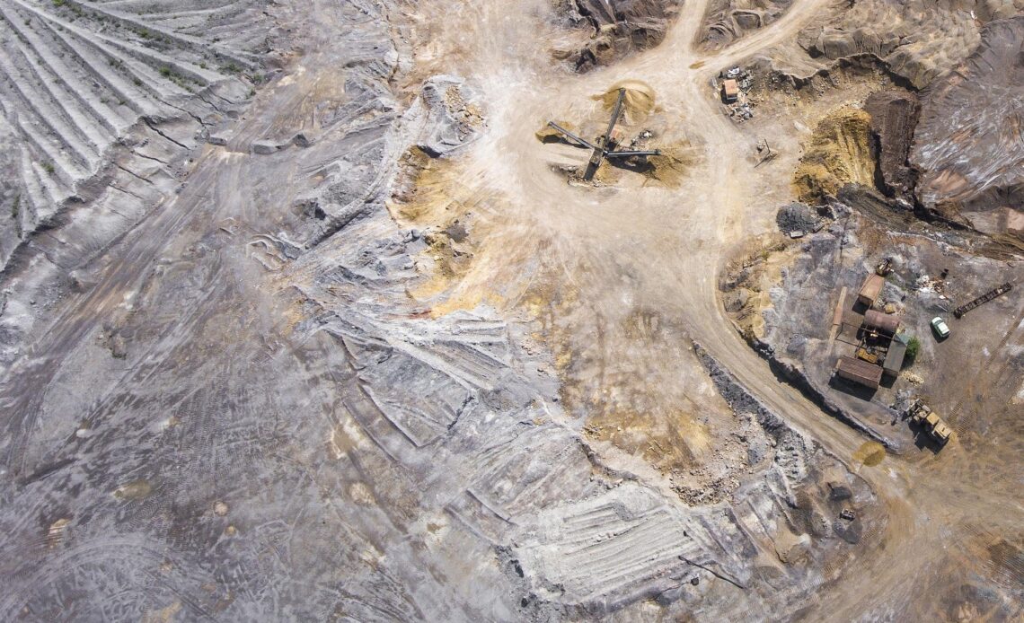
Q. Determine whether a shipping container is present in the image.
Yes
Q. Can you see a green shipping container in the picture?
No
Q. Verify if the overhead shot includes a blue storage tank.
No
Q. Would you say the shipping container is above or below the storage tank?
below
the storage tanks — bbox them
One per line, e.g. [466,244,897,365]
[862,309,901,339]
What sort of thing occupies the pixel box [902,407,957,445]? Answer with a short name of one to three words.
work vehicle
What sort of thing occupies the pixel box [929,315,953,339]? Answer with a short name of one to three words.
car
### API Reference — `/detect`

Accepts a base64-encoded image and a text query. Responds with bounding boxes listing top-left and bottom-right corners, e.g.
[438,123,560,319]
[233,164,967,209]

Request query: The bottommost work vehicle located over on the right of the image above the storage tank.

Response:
[876,259,892,276]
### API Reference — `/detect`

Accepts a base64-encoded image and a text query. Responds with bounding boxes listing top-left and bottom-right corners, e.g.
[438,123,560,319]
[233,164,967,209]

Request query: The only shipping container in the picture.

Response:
[835,355,885,392]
